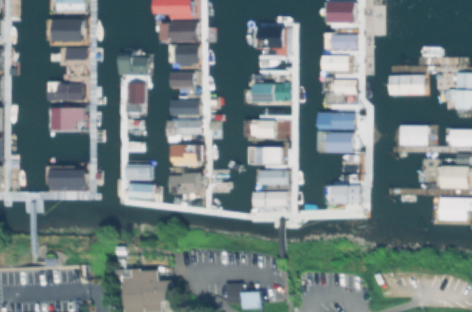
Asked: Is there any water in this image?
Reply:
Yes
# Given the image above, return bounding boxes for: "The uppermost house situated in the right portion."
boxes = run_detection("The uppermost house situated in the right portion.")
[326,0,358,22]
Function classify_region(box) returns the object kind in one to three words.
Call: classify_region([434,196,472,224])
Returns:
house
